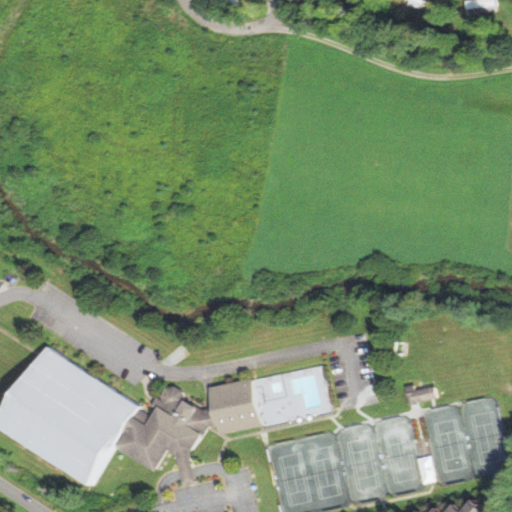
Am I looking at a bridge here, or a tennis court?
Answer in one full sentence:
I can see a tennis court in this picture.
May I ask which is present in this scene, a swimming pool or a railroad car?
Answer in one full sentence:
Looking from above, you can make out a swimming pool.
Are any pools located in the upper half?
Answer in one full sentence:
No, I see no pool in the upper half.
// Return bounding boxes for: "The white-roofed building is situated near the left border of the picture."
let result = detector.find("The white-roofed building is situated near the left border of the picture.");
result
[0,346,144,485]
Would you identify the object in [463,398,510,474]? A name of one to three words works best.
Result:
tennis court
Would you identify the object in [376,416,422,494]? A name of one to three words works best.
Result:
tennis court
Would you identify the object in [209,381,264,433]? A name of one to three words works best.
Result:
building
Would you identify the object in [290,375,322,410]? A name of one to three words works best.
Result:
swimming pool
